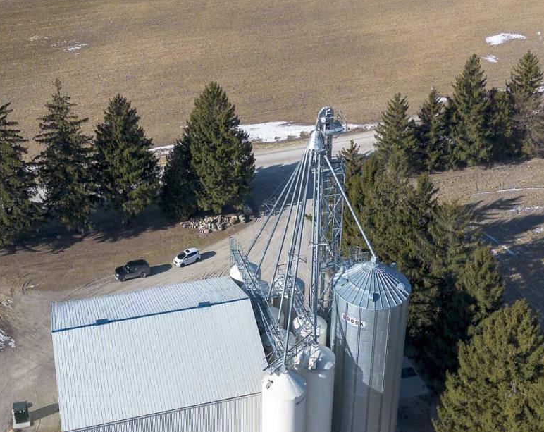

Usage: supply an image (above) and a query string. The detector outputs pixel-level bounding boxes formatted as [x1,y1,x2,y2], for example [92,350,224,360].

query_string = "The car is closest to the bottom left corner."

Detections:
[113,258,150,278]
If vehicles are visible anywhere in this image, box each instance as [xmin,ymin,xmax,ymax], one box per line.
[173,247,203,266]
[113,258,150,278]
